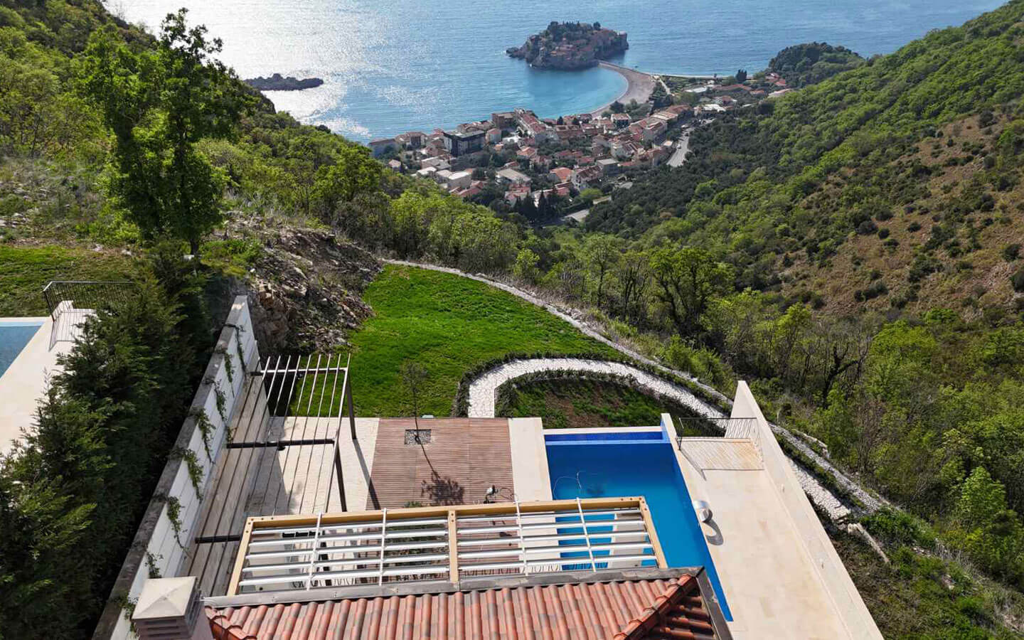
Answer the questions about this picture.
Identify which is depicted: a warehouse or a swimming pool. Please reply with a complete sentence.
Of the two, only a swimming pool appears.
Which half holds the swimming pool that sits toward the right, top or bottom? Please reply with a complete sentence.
You can find the swimming pool that sits toward the right in the bottom half.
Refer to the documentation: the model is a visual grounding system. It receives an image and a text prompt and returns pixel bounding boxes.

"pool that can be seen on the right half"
[544,415,730,619]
